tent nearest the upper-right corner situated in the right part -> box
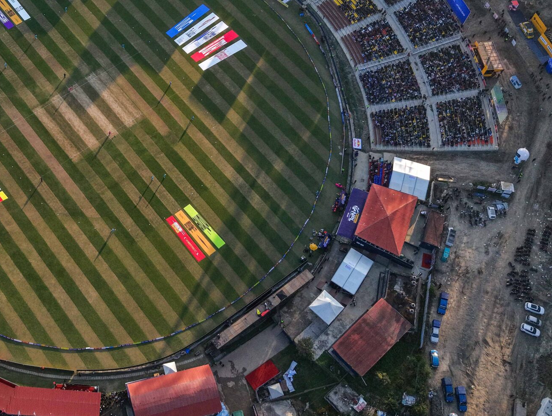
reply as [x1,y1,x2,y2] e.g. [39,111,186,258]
[387,157,429,206]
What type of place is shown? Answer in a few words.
sports ground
